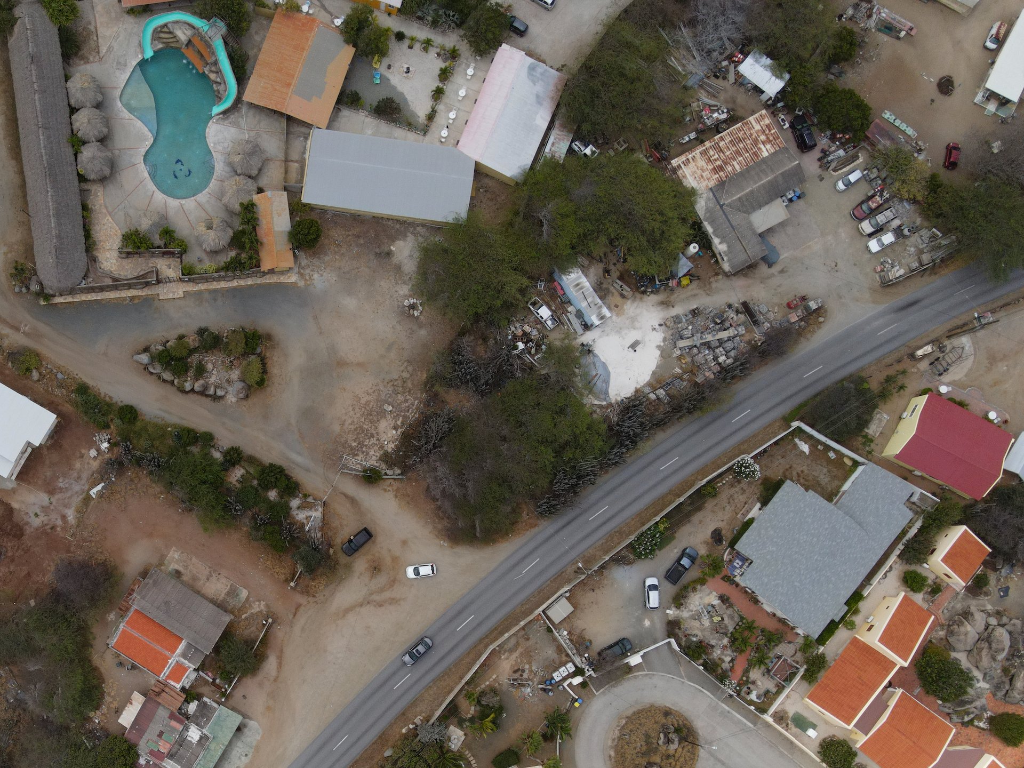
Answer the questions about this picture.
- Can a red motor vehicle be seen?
Yes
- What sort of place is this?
residential area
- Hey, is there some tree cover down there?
Yes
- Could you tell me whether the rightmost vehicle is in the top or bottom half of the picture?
top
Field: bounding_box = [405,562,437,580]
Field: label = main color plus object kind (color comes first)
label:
white car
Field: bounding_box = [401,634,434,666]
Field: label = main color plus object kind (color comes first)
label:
gray car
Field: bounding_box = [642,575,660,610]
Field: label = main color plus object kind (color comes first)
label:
white car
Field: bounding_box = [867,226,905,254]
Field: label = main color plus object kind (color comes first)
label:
white truck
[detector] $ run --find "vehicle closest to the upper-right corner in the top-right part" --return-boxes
[982,18,1009,52]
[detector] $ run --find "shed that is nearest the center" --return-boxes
[553,268,611,330]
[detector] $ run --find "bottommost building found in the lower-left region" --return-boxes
[118,680,246,768]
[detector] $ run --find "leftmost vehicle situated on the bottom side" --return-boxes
[339,525,376,555]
